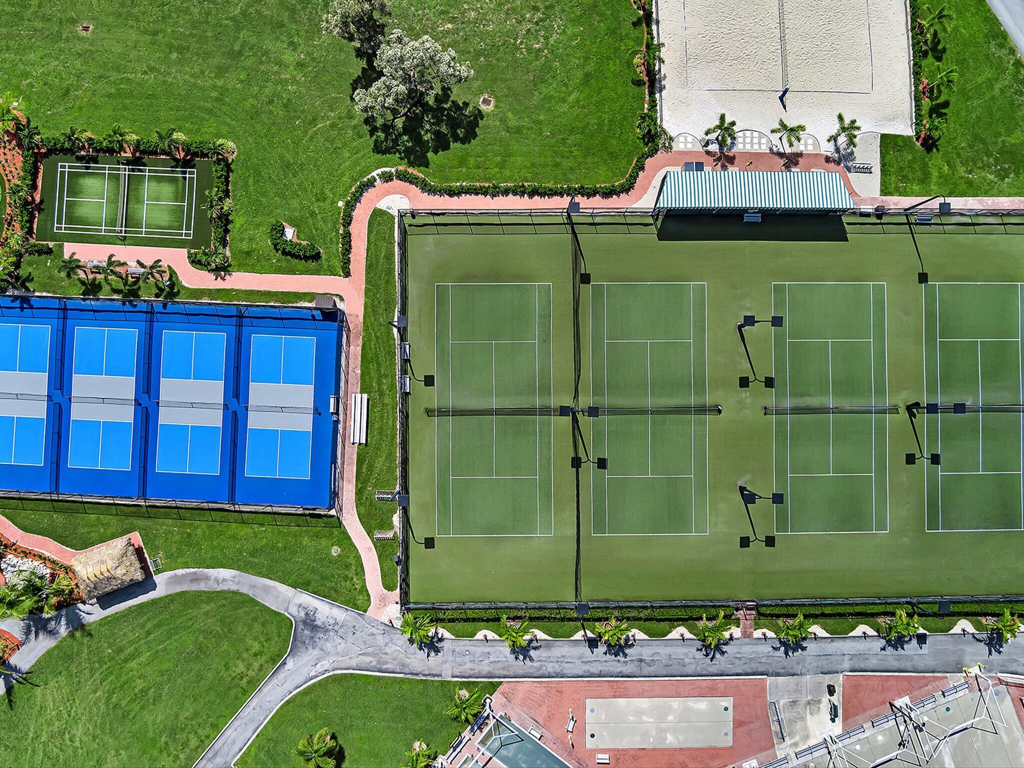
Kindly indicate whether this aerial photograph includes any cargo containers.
No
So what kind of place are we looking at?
sports ground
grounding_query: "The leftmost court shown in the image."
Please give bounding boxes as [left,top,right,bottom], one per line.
[0,298,63,491]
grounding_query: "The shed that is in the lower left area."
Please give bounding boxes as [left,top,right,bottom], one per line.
[71,533,149,604]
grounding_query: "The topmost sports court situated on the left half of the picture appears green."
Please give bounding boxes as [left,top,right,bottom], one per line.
[37,153,212,250]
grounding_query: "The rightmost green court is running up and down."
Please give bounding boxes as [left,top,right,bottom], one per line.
[903,214,1024,598]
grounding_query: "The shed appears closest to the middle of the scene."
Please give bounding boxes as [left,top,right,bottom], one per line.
[311,295,336,310]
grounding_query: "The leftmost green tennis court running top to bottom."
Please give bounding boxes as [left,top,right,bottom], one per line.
[401,214,577,603]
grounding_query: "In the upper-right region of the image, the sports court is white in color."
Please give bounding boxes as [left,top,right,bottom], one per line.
[660,0,915,154]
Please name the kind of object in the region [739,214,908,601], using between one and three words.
tennis court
